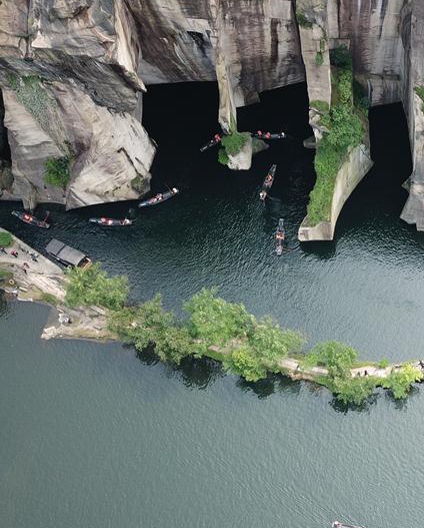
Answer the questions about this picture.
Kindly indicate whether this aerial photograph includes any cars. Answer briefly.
No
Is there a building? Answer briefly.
No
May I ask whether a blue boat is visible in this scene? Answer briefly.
No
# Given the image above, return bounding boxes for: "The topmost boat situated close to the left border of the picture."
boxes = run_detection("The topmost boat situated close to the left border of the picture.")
[13,211,51,228]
